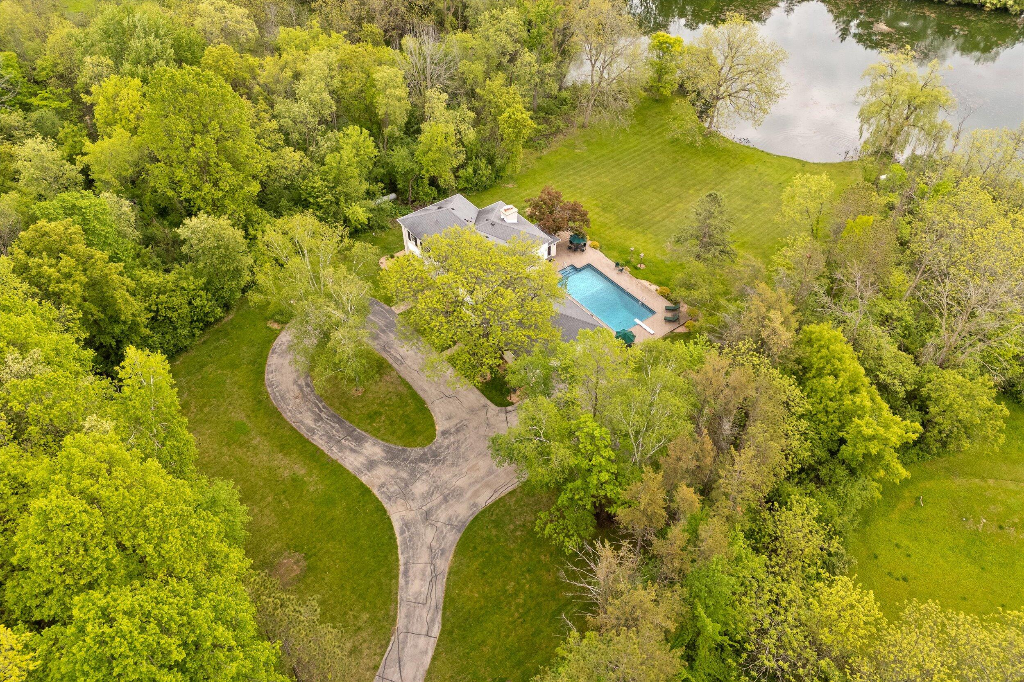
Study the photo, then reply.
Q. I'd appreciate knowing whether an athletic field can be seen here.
No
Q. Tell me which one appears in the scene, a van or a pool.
pool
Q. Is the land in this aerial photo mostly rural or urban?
rural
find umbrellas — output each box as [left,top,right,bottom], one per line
[614,330,637,345]
[569,234,587,247]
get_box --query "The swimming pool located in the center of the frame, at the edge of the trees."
[550,260,658,333]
